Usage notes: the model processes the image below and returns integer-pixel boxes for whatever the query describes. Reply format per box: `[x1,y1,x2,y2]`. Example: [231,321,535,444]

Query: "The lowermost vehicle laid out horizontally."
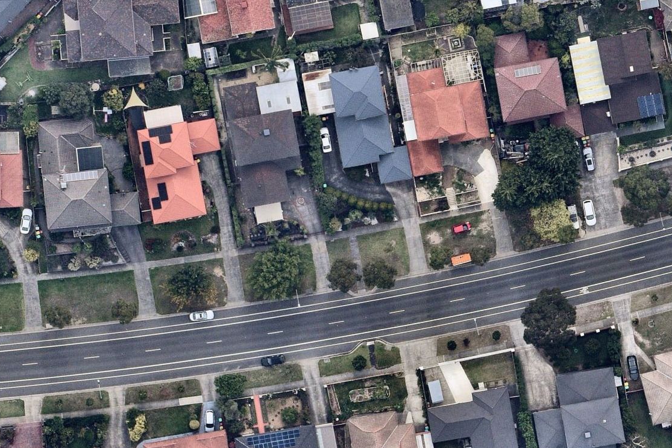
[260,354,286,367]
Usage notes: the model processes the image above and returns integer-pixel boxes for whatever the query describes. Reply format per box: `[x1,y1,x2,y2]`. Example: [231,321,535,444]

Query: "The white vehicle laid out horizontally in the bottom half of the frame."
[189,309,215,322]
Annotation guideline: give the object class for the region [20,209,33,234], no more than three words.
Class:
vehicle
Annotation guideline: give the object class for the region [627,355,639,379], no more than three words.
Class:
vehicle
